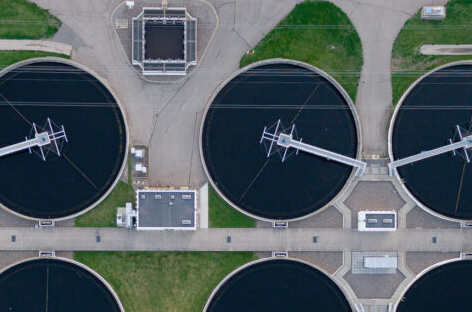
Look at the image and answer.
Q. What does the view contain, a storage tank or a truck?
storage tank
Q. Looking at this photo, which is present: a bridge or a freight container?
bridge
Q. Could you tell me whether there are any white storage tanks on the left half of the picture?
No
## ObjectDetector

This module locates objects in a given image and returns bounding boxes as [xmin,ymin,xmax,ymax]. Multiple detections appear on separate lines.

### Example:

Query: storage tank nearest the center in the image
[200,59,363,221]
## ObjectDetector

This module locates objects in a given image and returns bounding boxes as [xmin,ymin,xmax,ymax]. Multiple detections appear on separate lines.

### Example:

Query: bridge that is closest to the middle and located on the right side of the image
[274,131,363,178]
